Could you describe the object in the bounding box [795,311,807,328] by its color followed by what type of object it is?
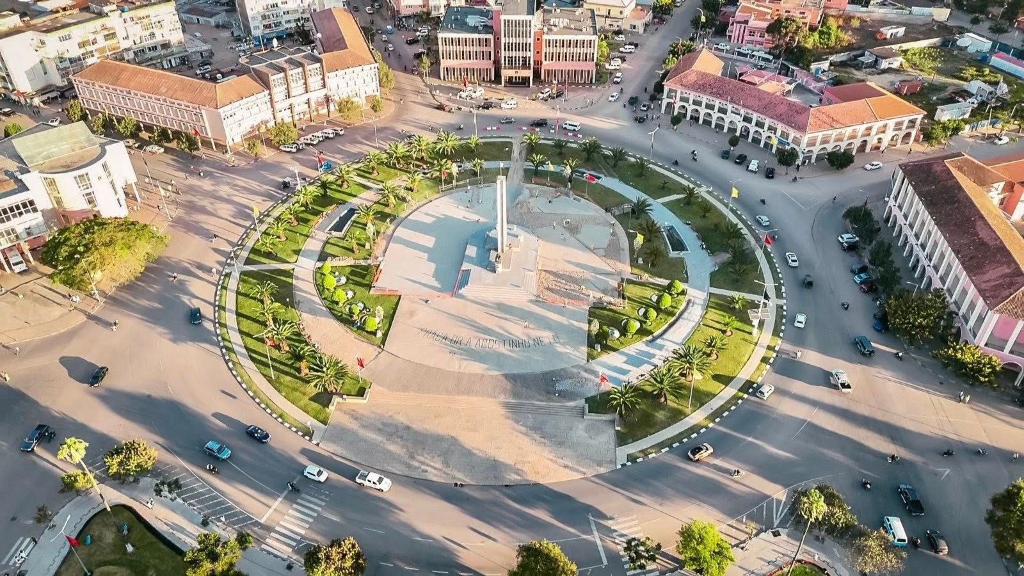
white vehicle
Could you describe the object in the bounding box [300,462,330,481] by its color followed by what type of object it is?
white car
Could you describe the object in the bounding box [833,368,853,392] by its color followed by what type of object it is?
white vehicle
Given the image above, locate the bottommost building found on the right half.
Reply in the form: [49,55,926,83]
[884,141,1024,381]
